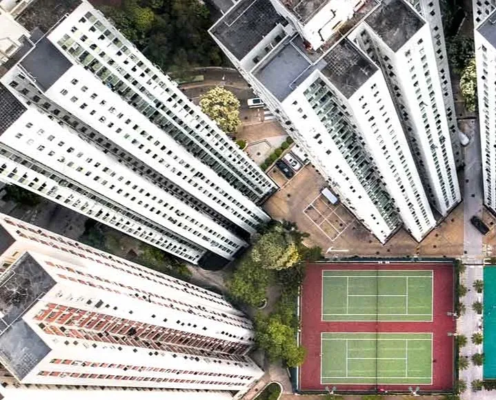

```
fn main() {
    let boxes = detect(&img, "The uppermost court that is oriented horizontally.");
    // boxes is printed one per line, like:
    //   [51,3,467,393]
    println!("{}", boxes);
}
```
[301,262,455,327]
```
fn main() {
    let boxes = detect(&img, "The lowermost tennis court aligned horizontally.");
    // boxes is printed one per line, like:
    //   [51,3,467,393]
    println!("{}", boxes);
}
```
[301,327,455,393]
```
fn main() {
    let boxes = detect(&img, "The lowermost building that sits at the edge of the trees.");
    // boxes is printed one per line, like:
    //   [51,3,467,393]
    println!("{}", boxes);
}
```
[0,217,268,400]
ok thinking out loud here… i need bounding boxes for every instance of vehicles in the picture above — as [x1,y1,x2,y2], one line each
[276,160,295,179]
[470,216,490,235]
[245,97,268,109]
[285,153,303,173]
[320,186,341,207]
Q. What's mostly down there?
buildings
